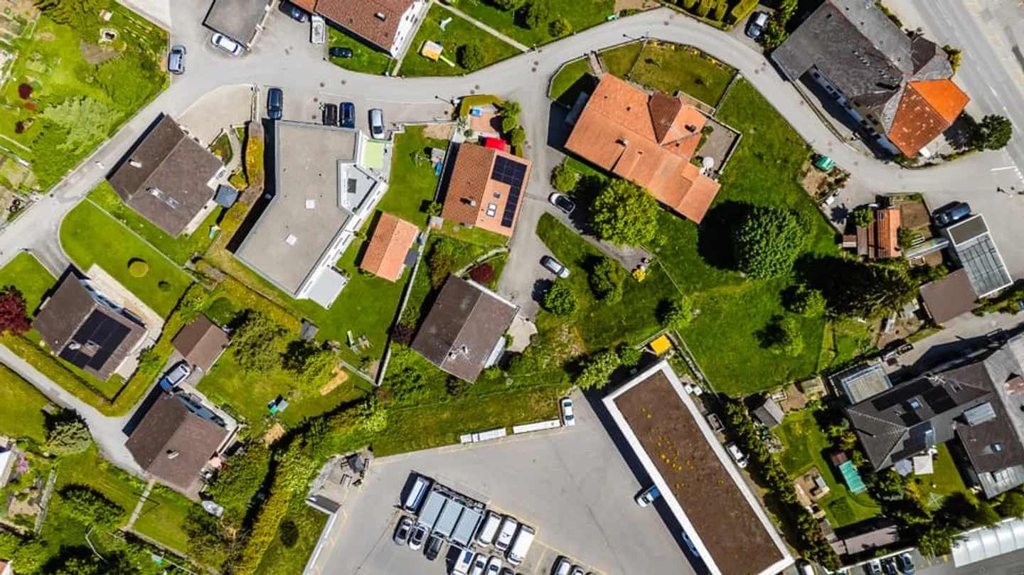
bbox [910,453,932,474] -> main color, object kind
white umbrella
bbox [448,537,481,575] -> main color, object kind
white truck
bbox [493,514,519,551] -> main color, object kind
white vehicle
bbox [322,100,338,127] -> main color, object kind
black car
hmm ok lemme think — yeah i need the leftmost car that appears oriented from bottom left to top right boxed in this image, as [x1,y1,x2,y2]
[160,360,195,392]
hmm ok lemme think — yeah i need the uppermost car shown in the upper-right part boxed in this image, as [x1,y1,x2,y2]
[744,9,770,41]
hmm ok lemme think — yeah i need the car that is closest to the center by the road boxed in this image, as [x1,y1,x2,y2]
[538,253,572,280]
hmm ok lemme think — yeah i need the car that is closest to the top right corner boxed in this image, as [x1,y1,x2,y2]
[929,202,972,225]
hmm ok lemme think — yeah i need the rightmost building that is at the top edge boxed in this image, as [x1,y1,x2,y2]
[768,0,969,158]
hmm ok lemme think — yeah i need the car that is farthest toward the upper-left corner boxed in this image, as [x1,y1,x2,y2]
[169,44,187,76]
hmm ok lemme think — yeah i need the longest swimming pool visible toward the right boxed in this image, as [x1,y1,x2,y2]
[839,460,865,493]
